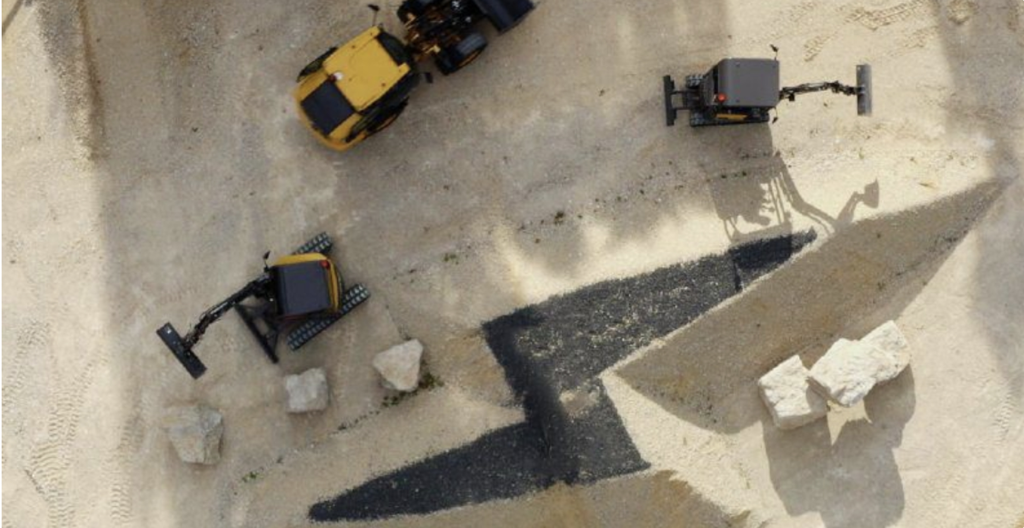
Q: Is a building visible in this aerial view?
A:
No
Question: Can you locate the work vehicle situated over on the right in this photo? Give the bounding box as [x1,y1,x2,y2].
[661,46,874,129]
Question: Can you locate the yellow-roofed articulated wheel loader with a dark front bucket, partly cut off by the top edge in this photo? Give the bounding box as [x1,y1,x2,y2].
[296,0,540,150]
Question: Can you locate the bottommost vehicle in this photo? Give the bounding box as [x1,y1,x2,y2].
[158,232,372,380]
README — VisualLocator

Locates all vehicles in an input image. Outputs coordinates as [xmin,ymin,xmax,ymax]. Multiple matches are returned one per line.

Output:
[158,232,372,380]
[296,0,540,150]
[661,46,874,129]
